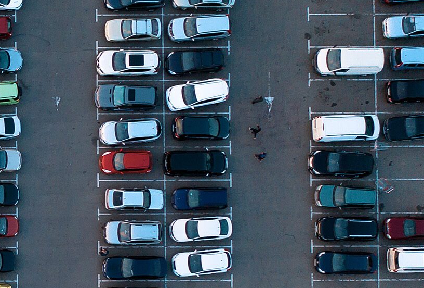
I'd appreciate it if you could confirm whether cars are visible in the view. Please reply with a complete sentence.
Yes, the photo shows a car.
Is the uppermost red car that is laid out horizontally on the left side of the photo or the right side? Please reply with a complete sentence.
The uppermost red car that is laid out horizontally sits on the left side.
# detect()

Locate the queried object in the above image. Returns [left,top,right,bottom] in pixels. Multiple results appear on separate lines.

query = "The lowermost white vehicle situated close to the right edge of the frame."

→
[385,247,424,272]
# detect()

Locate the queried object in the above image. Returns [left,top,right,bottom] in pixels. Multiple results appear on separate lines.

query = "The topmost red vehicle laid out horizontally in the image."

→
[99,148,155,174]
